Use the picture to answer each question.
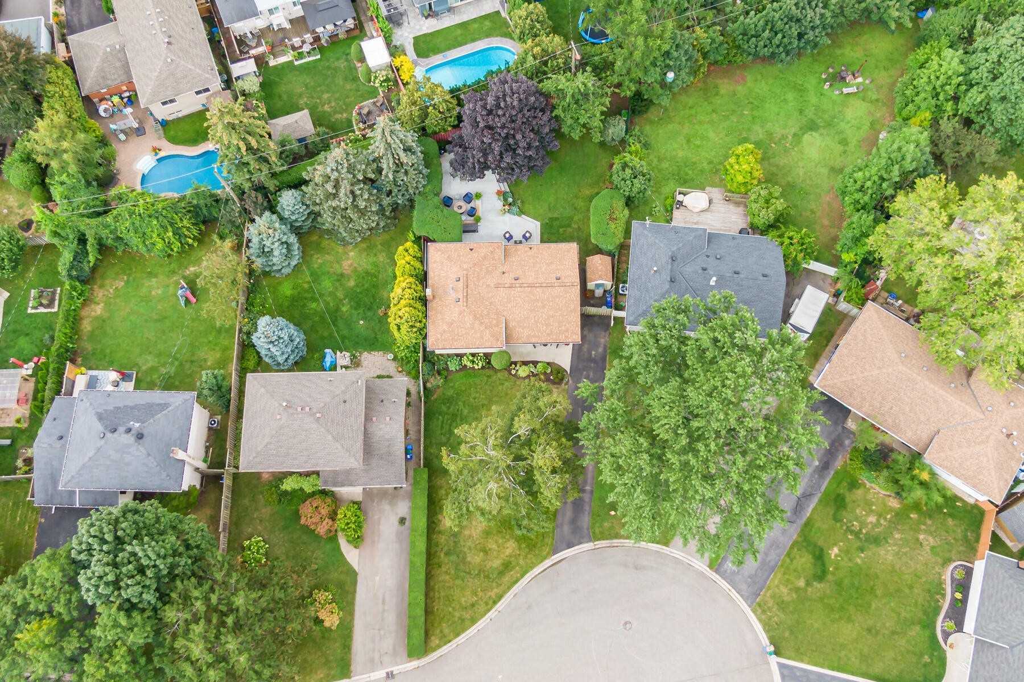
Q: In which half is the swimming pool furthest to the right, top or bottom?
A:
top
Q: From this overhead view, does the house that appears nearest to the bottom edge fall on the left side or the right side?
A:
right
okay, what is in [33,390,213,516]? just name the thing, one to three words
house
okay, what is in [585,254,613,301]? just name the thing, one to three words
shed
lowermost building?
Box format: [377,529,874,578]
[955,551,1024,682]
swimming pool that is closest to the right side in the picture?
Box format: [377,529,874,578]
[415,43,519,92]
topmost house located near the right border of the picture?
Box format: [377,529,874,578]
[811,301,1024,505]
